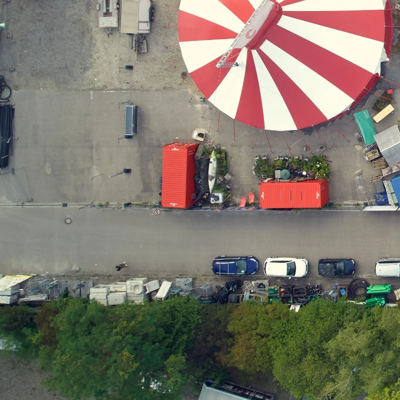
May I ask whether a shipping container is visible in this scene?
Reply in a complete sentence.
Yes, there's a shipping container down there.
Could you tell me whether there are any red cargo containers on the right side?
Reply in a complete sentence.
Yes, a red cargo container can be seen on the right side.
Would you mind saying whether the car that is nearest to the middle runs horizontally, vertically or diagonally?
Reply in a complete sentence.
The car that is nearest to the middle has been laid out horizontally relative to the frame.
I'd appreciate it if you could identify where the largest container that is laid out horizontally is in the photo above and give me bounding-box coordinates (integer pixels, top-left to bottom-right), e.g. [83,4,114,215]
[259,179,327,208]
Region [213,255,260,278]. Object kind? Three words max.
car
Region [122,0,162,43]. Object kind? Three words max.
trailer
